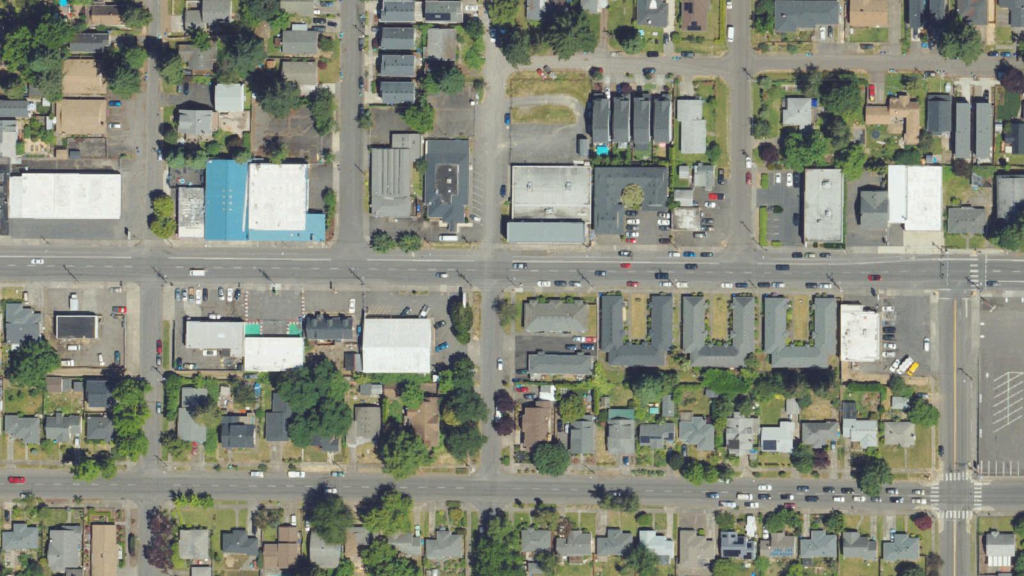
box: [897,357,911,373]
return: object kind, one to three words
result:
vehicle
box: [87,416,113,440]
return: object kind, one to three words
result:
house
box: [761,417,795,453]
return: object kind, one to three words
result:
house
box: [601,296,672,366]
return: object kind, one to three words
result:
building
